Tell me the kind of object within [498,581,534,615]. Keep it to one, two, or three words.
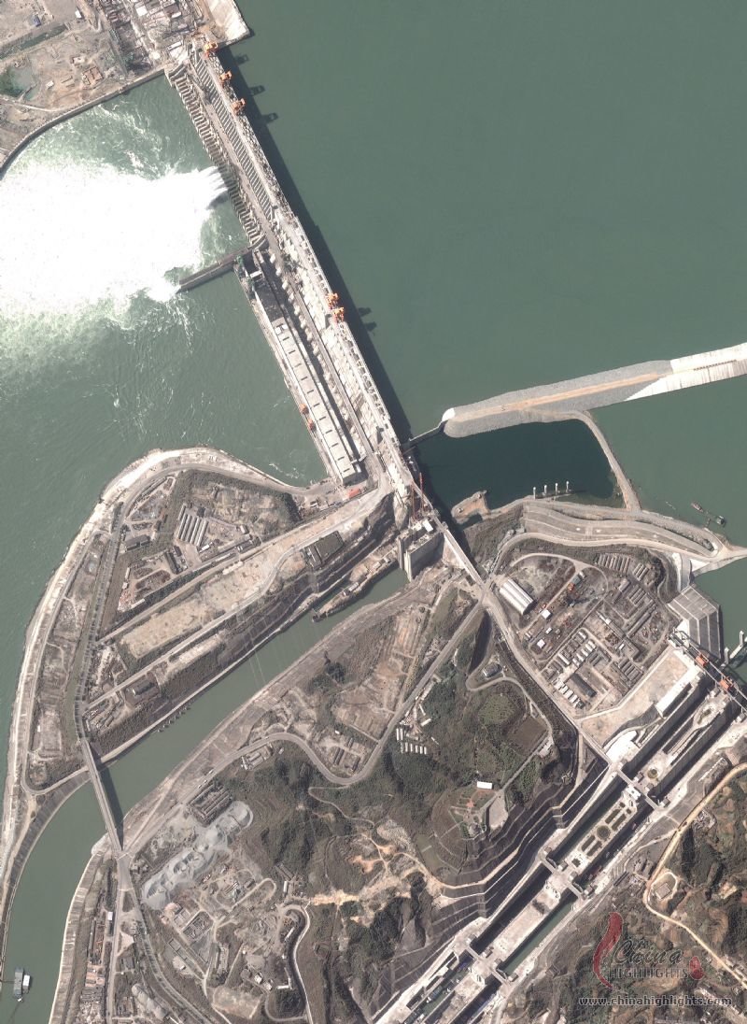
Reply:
building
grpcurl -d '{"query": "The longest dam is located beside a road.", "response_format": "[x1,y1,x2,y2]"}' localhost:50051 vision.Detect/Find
[180,40,487,601]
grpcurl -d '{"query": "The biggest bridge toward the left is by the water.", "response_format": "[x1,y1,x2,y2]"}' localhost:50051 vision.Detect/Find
[78,735,126,855]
